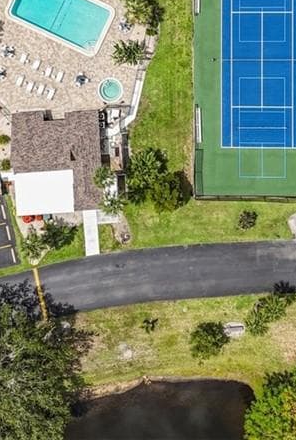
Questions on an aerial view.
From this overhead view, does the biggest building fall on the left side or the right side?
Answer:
left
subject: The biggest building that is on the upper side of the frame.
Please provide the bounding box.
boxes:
[12,110,103,212]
